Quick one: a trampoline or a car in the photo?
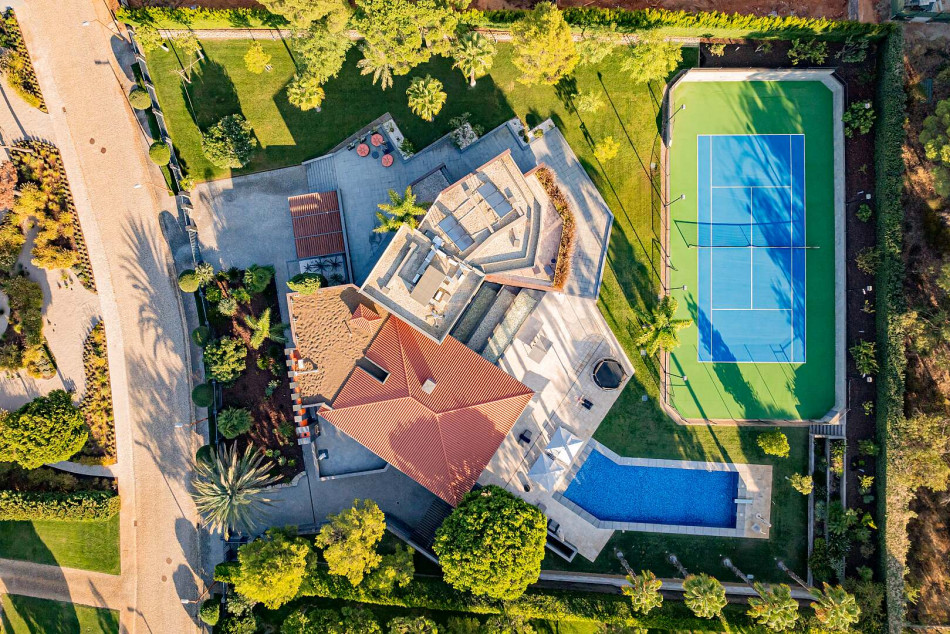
trampoline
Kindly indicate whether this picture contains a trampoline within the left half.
No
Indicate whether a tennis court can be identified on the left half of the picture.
No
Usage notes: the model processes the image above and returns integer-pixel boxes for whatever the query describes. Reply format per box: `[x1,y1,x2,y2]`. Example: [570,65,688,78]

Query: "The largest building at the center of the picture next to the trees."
[285,150,563,507]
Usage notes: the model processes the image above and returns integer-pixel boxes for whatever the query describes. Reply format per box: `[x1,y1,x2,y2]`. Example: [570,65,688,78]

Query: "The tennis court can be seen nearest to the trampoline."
[657,68,848,426]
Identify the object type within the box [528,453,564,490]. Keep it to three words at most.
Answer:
umbrella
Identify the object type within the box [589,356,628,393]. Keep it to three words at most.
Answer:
trampoline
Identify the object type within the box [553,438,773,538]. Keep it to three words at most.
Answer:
swimming pool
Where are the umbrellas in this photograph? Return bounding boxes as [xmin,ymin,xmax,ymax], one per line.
[528,453,564,490]
[546,427,584,465]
